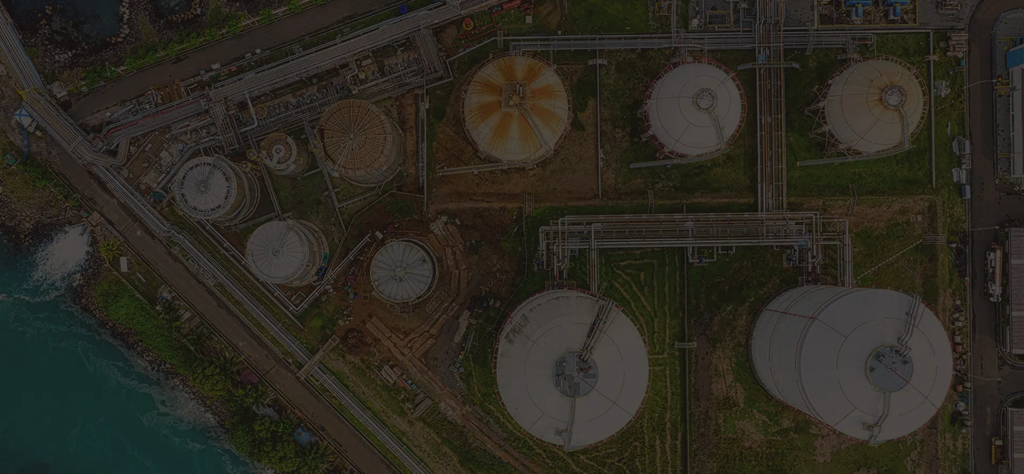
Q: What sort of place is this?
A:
industrial area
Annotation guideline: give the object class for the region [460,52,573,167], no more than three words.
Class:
storage tank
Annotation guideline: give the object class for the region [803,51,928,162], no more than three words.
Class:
storage tank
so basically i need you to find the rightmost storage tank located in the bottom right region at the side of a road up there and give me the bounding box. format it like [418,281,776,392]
[748,277,954,445]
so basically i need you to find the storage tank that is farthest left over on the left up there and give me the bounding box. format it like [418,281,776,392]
[174,154,260,224]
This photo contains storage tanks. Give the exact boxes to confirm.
[460,52,573,167]
[369,238,437,310]
[495,283,650,452]
[313,100,408,190]
[246,219,329,287]
[748,277,954,445]
[803,51,928,162]
[637,57,747,163]
[174,154,260,224]
[260,134,312,176]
